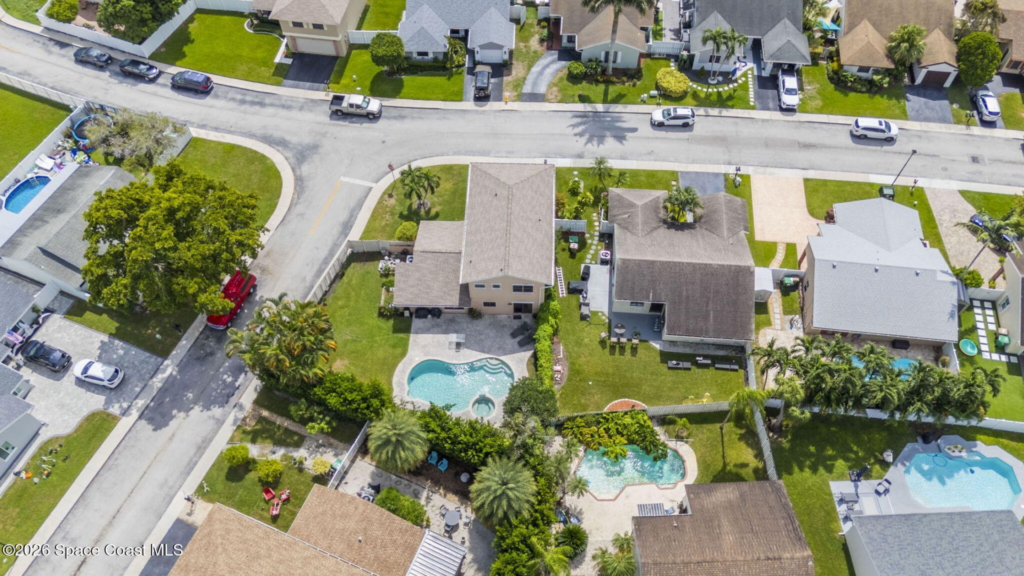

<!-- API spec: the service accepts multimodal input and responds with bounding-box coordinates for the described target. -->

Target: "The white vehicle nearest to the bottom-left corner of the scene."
[70,356,130,393]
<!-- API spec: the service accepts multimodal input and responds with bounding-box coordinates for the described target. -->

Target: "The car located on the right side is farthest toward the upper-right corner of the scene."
[969,92,1002,123]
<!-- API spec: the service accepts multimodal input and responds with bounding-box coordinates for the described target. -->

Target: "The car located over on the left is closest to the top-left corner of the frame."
[71,46,117,69]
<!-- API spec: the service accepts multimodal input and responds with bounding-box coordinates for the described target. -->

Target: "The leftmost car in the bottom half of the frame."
[18,337,77,377]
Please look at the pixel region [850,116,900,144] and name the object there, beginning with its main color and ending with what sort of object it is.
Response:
white car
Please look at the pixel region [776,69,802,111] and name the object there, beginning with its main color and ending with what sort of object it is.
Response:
white truck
